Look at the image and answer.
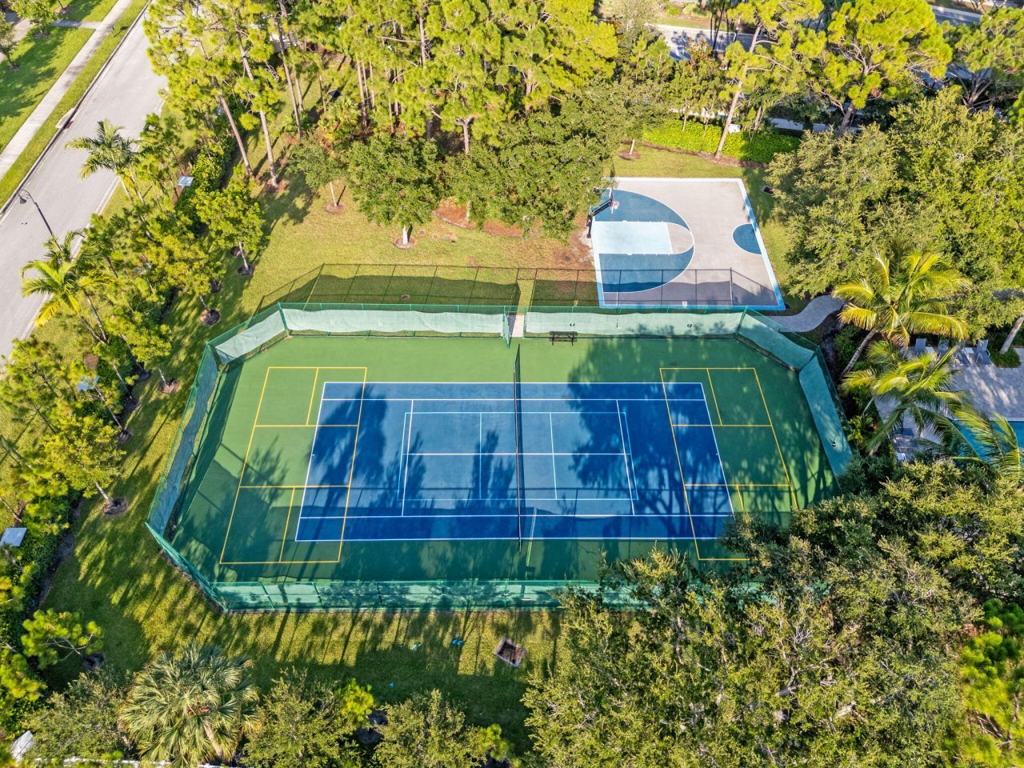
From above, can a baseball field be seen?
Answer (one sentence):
No, the photo shows no baseball field.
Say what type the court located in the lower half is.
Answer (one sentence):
The court located in the lower half in the image is a tennis court.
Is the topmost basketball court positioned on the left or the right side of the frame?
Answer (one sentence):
The topmost basketball court is on the right side of the image.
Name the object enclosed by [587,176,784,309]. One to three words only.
basketball court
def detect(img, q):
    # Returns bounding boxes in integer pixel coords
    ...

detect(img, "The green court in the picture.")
[171,339,852,611]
